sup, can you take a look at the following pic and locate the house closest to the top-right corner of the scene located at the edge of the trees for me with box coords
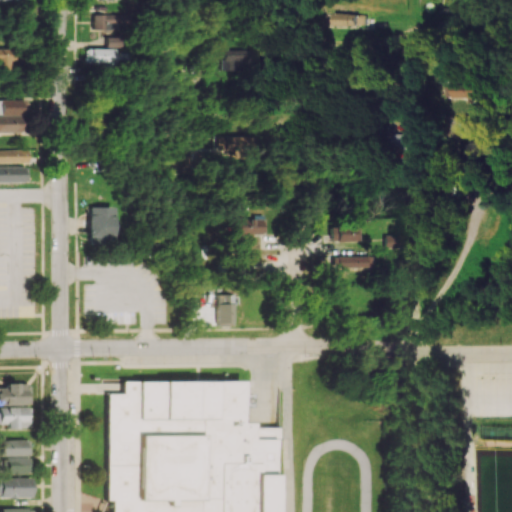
[445,90,472,103]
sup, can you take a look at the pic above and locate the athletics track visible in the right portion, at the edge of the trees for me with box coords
[302,438,372,512]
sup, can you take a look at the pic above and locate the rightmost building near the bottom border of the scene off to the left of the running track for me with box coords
[108,381,286,512]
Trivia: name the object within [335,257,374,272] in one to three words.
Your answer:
house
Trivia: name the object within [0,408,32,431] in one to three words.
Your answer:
house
